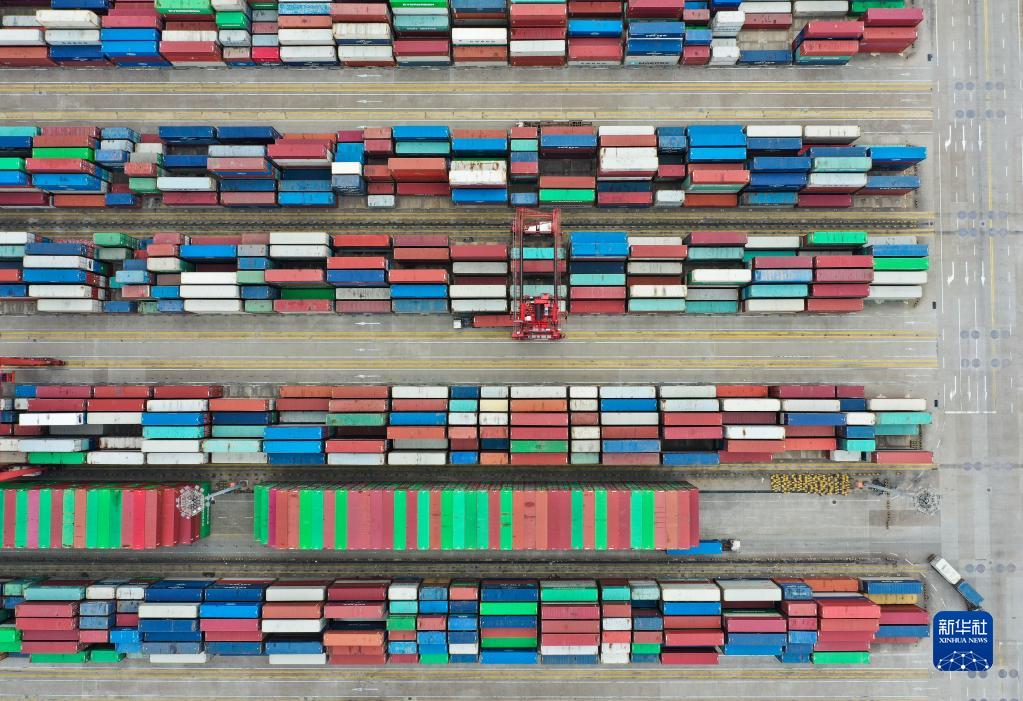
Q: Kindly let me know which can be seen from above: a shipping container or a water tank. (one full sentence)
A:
Of the two, only a shipping container appears.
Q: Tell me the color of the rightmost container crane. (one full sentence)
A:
In this view, the rightmost container crane is red.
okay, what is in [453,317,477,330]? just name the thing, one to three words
vehicle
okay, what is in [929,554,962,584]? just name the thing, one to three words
shipping container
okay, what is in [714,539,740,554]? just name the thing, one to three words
vehicle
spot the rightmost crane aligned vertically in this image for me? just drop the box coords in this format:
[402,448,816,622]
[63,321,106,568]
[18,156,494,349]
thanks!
[508,206,566,338]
